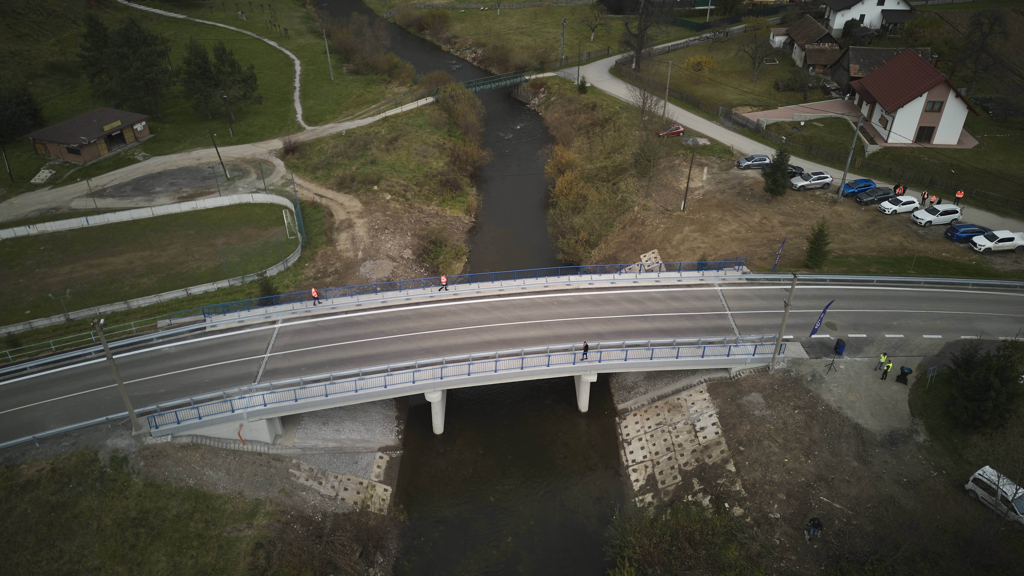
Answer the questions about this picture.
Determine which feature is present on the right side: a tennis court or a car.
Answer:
car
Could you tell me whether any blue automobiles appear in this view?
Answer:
Yes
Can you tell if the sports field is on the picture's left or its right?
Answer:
left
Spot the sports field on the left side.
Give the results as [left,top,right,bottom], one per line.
[0,191,300,336]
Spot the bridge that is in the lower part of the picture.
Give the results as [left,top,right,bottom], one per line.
[152,256,785,445]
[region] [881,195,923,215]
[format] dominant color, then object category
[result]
white car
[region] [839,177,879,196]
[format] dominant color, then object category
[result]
blue car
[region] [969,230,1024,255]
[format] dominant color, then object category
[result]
white truck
